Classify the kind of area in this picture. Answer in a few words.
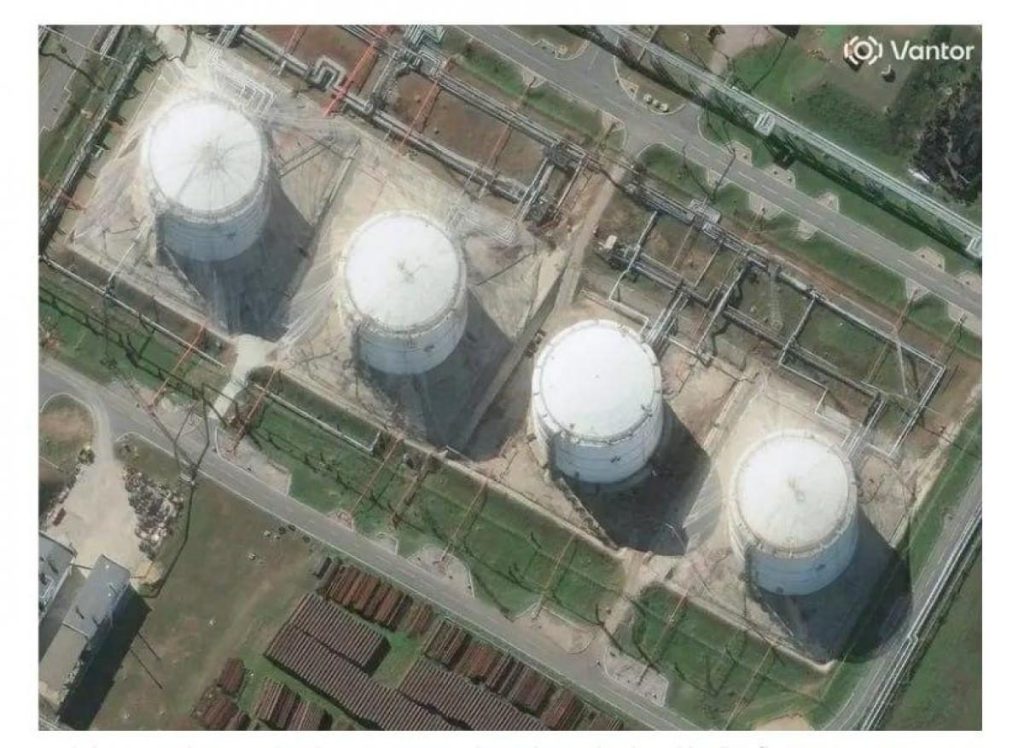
industrial area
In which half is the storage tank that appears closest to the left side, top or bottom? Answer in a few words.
top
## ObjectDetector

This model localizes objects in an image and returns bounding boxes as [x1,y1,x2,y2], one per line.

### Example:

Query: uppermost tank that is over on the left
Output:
[136,96,280,264]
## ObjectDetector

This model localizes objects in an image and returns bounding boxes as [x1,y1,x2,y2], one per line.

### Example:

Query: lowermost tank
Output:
[728,429,871,602]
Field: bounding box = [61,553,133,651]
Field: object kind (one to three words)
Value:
building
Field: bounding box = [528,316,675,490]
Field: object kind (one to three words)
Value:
storage tank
